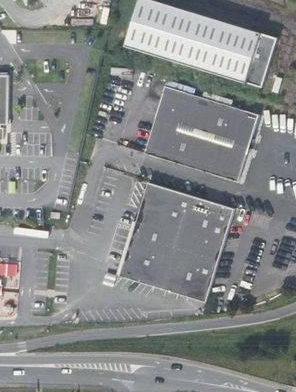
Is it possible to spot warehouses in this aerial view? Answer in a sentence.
Yes, the image includes a warehouse.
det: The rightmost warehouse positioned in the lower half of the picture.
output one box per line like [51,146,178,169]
[116,182,236,302]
